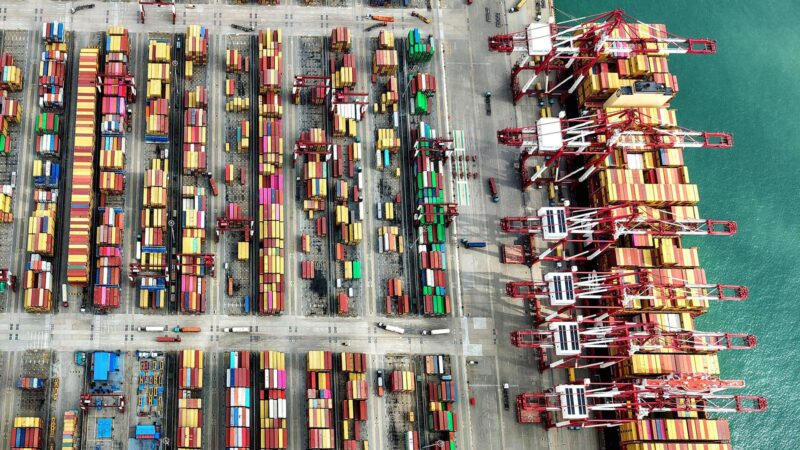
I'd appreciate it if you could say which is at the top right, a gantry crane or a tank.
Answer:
gantry crane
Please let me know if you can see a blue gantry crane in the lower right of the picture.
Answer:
No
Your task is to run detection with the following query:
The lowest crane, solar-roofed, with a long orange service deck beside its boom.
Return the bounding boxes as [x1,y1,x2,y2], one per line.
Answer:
[513,371,773,441]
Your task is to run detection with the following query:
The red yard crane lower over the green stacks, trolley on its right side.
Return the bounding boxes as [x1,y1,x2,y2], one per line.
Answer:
[412,207,459,233]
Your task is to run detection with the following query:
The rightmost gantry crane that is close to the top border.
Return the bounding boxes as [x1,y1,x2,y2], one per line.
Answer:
[485,11,720,108]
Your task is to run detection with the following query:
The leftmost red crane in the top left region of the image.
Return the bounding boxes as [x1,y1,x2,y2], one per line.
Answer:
[95,80,136,109]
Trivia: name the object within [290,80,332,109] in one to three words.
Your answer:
crane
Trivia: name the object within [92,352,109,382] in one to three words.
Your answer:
building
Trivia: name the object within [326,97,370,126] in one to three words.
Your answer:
crane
